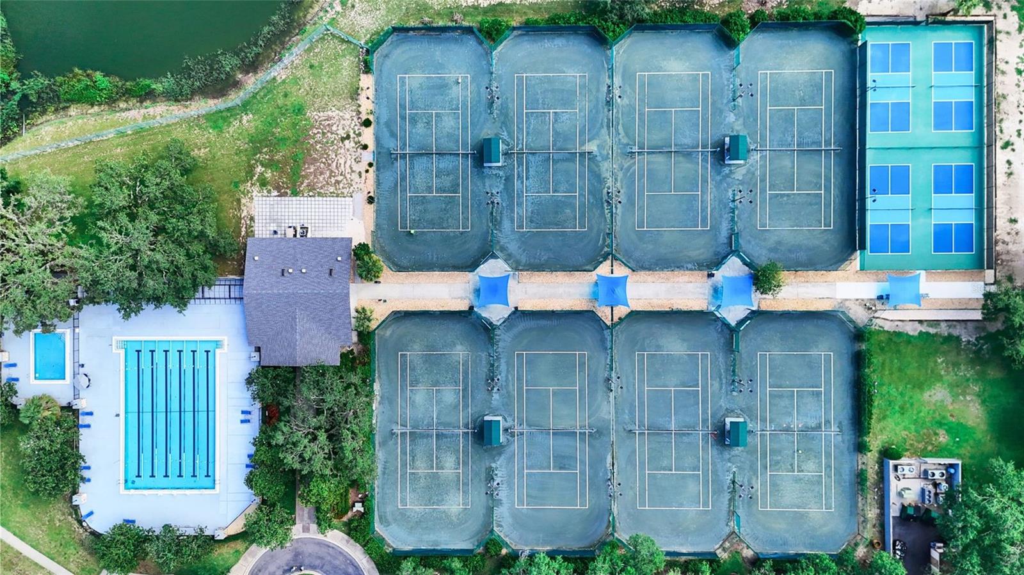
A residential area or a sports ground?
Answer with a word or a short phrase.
sports ground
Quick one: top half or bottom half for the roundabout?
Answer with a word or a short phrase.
bottom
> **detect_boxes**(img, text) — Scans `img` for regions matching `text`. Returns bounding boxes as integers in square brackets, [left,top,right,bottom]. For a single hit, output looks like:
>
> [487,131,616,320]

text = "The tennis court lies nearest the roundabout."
[375,311,493,548]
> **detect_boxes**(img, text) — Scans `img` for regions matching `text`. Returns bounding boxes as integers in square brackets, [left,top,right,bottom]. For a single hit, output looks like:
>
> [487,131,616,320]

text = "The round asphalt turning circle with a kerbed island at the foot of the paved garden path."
[233,522,378,575]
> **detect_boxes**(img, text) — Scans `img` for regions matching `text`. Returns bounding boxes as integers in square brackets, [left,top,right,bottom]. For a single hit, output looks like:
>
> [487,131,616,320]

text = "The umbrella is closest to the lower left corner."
[73,373,90,388]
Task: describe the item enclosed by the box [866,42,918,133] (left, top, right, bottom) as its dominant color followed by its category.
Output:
blue sports court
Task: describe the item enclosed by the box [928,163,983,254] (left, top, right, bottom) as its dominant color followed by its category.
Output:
blue sports court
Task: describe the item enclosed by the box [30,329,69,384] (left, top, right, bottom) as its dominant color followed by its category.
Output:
blue swimming pool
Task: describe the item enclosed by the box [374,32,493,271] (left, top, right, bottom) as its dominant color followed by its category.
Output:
blue tennis court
